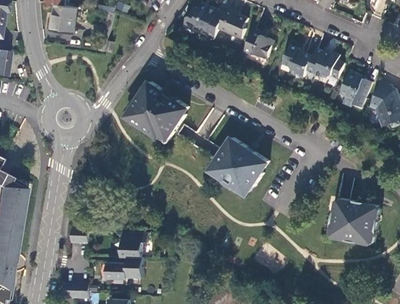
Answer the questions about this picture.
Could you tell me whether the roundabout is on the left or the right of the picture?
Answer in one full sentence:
You can find the roundabout on the left side of the picture.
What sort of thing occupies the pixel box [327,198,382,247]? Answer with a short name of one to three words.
building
